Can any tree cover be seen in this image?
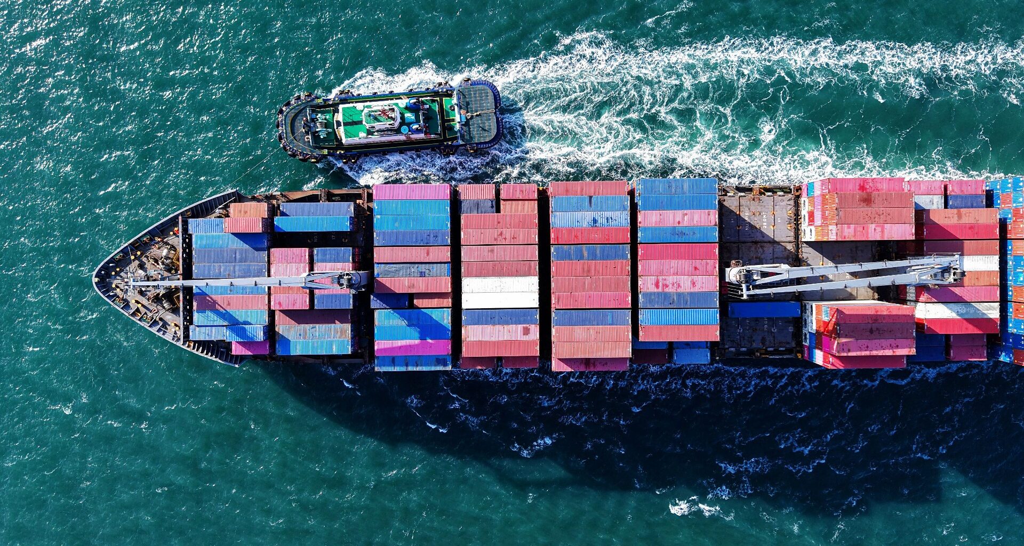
No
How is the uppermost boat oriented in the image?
from side to side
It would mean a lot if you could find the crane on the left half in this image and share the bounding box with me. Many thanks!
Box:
[129,268,377,297]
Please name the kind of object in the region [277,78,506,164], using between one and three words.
boat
